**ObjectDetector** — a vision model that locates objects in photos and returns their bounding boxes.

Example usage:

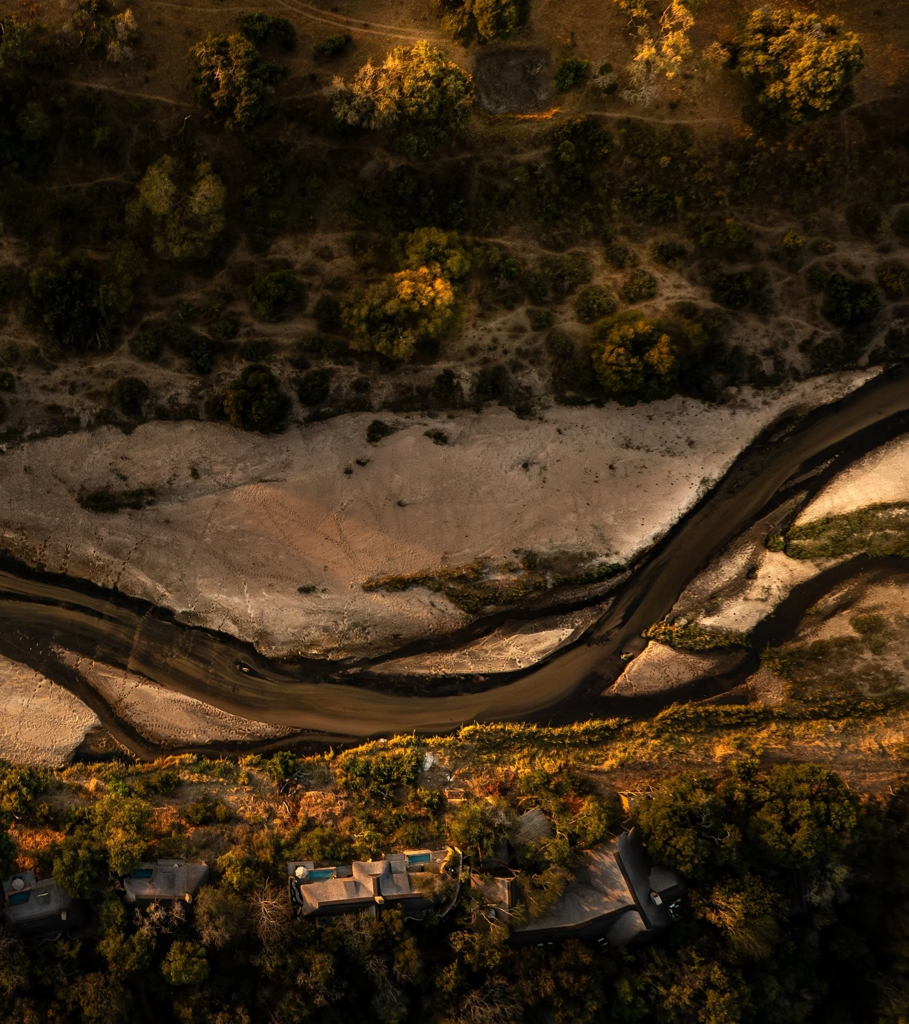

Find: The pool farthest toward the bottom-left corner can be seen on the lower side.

[6,887,35,905]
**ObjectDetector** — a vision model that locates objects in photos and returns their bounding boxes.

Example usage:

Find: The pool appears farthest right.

[403,851,435,866]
